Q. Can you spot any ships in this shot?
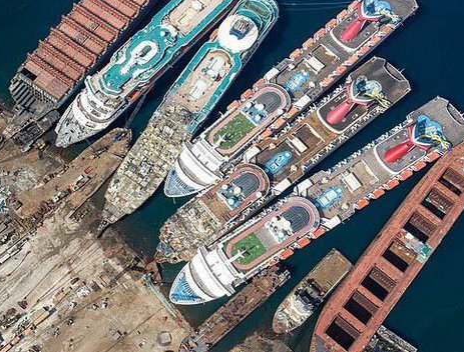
Yes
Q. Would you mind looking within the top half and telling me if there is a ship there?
Yes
